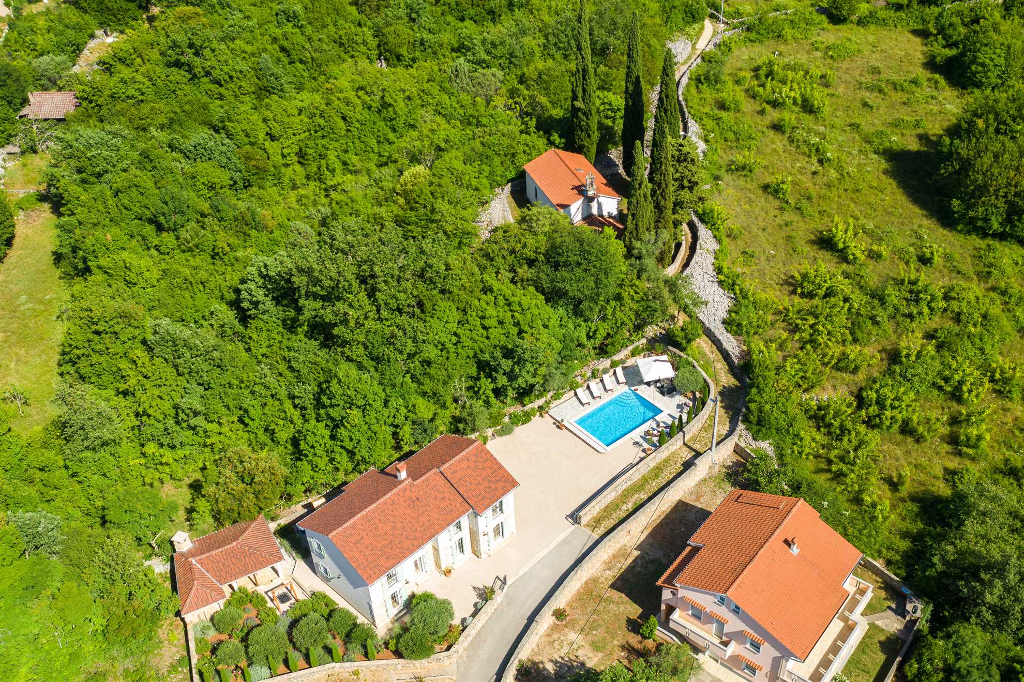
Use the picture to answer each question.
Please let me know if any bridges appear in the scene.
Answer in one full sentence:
No, there appears to be no bridge in this shot.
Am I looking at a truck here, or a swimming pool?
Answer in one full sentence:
This aerial view contains a swimming pool.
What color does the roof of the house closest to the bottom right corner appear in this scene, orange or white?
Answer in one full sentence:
The color of the roof of the house closest to the bottom right corner is orange.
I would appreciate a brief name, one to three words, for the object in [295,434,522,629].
house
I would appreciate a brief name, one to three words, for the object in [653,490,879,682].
house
